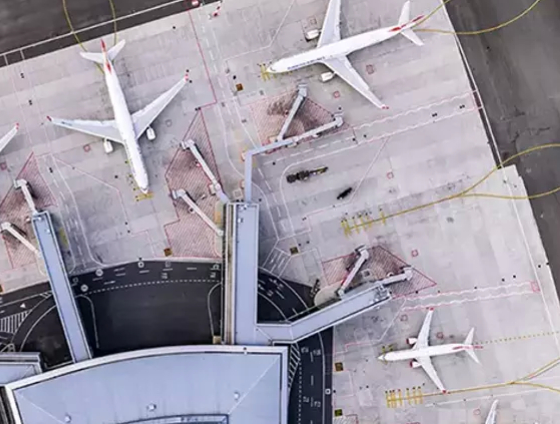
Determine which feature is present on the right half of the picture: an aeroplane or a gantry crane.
aeroplane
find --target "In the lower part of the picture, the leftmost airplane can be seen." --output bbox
[380,309,482,392]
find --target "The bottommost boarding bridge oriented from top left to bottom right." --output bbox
[0,223,42,258]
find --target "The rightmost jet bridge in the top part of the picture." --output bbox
[294,115,342,145]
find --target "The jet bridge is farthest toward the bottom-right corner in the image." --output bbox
[376,266,413,285]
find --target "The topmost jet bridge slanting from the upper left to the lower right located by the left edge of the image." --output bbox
[14,178,41,215]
